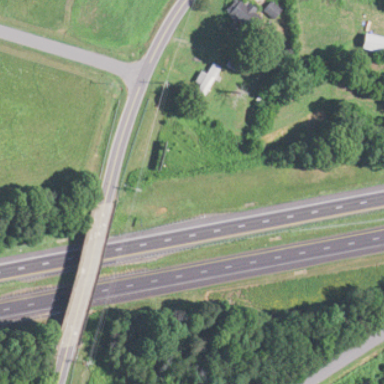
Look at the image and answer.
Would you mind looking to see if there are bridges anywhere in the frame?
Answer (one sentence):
Yes, there's a bridge here.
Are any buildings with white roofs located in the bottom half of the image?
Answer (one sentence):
No, no building with a white roof can be made out in the bottom half of the image.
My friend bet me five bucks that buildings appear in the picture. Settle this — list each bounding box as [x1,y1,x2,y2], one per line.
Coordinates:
[222,0,260,24]
[196,65,220,94]
[264,1,282,20]
[364,34,384,52]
